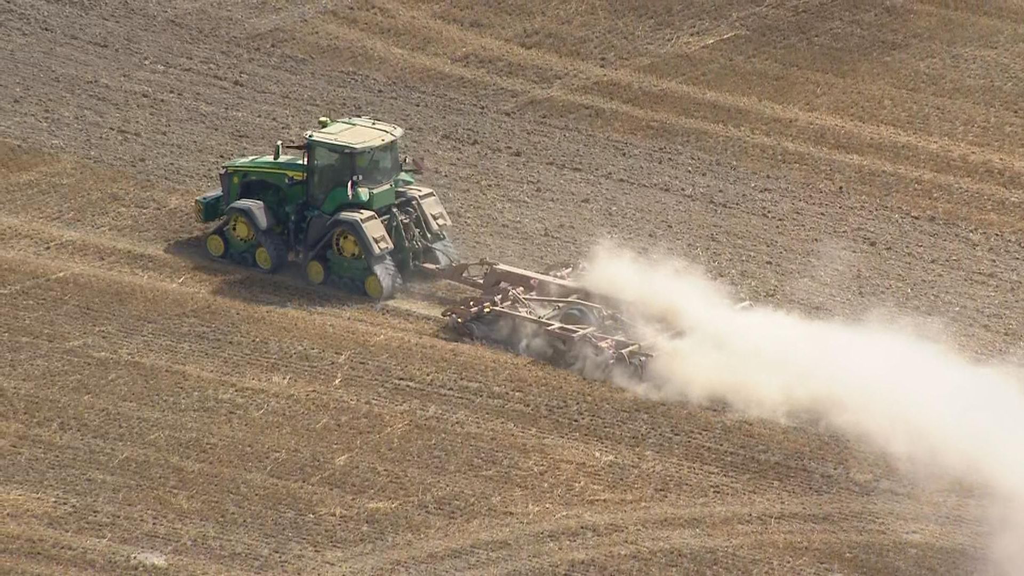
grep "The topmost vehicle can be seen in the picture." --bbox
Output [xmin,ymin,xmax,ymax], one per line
[199,115,464,303]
